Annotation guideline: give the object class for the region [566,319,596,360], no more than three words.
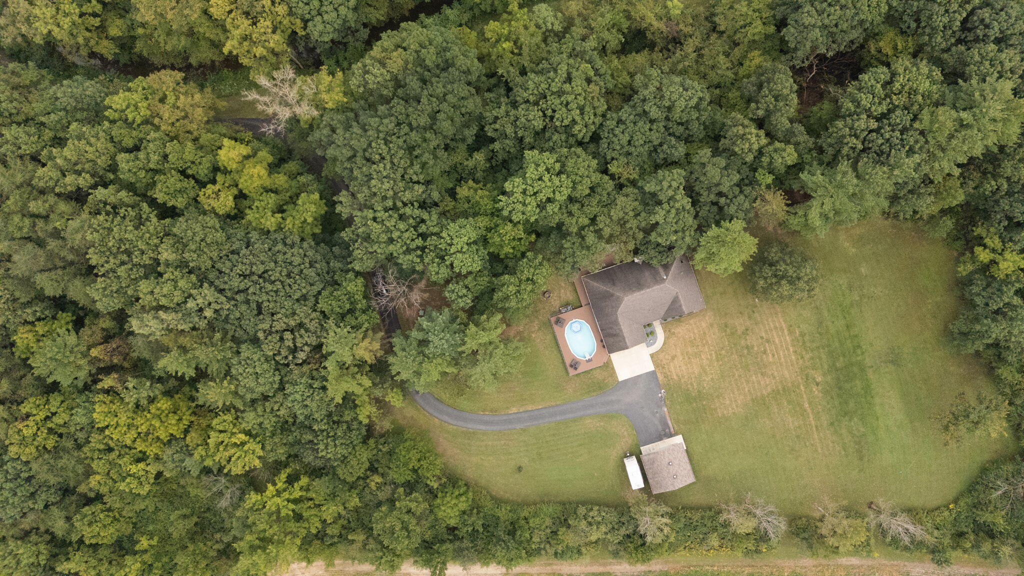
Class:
swimming pool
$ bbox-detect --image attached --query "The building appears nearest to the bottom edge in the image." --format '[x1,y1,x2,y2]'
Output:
[640,442,696,495]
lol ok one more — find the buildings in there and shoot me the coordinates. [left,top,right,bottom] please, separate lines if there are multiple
[582,247,706,356]
[640,442,696,495]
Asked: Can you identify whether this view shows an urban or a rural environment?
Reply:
rural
